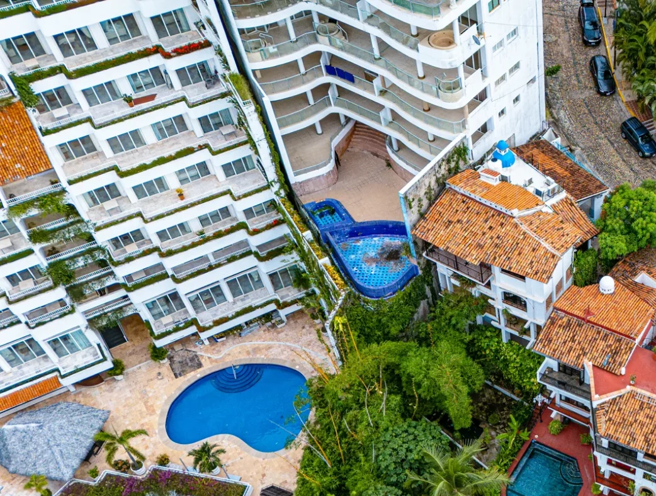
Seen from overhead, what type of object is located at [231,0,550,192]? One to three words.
building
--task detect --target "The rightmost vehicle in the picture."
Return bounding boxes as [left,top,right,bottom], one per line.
[616,105,656,159]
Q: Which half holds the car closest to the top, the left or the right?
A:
right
